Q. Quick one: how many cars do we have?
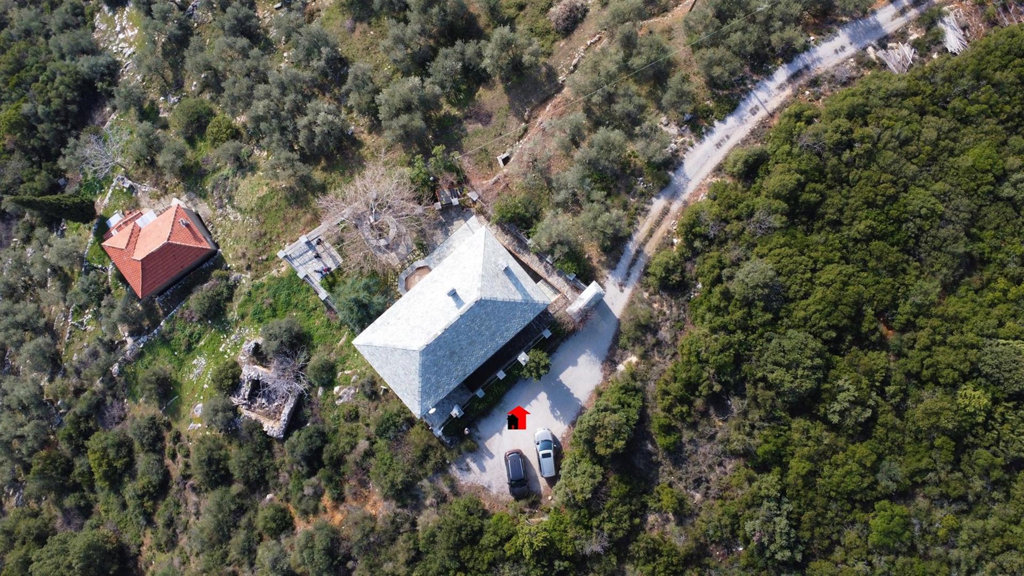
2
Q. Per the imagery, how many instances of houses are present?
2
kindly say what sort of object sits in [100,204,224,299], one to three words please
house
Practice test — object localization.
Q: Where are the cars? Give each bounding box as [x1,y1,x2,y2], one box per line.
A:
[505,449,530,498]
[534,426,559,480]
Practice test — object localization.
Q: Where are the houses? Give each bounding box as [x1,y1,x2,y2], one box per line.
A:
[351,225,551,419]
[100,204,224,299]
